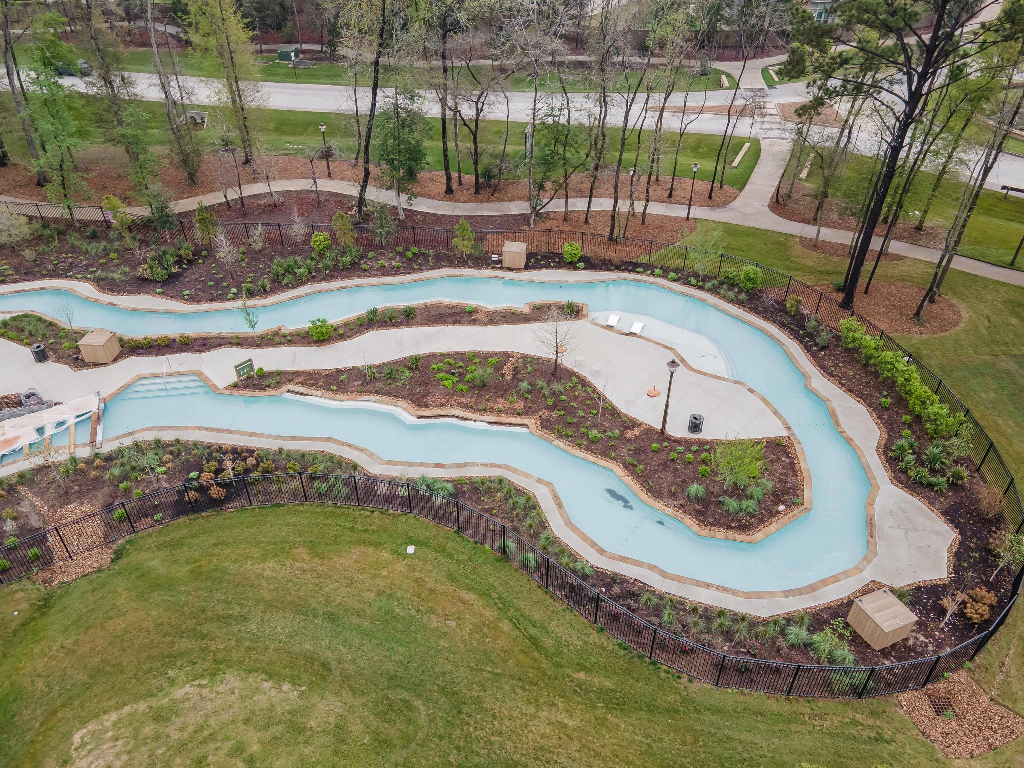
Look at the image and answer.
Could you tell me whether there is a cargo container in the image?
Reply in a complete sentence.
No, there isn't any cargo container down there.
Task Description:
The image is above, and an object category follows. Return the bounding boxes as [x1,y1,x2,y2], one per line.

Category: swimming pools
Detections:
[0,274,881,599]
